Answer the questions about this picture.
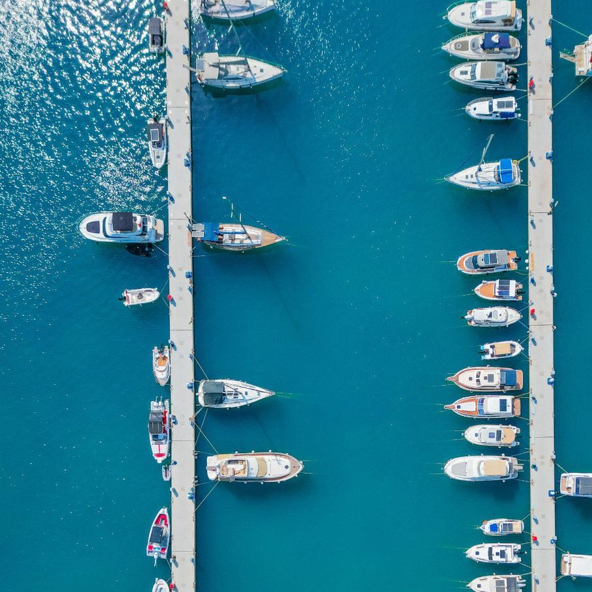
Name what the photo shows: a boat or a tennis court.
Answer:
boat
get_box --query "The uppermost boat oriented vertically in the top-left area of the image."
[150,16,165,63]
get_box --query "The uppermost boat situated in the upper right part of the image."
[400,0,526,48]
